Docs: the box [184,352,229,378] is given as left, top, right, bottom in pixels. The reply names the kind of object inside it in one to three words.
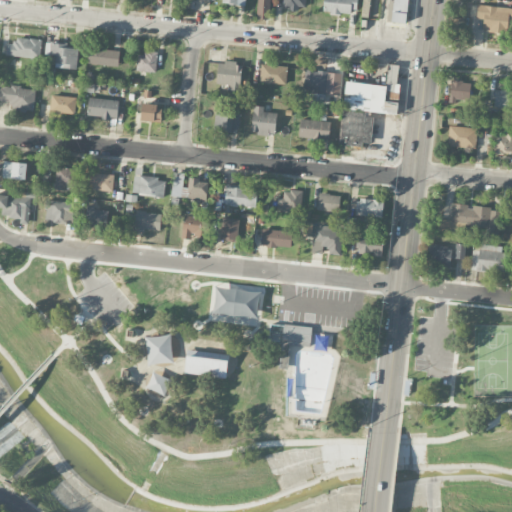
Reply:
building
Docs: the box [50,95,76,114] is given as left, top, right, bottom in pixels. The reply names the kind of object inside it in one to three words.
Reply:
house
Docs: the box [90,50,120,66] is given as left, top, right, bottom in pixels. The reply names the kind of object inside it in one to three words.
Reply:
house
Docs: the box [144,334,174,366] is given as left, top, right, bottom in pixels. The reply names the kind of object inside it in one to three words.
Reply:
building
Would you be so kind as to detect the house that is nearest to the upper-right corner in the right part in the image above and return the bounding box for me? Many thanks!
[478,3,512,32]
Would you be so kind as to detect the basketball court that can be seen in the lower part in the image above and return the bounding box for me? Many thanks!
[474,324,512,397]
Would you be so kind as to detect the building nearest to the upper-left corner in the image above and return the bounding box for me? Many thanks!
[10,37,42,58]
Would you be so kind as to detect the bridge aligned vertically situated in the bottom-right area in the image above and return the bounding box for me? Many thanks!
[359,432,401,512]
